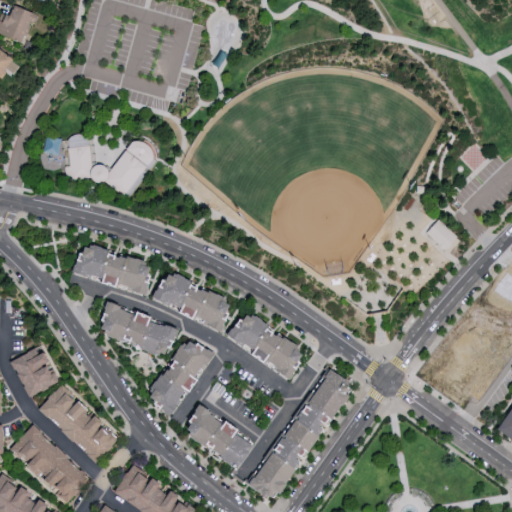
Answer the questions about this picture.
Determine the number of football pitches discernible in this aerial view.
0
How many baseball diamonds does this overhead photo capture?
1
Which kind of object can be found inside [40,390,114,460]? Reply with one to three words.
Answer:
house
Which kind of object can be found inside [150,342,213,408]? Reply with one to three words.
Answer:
house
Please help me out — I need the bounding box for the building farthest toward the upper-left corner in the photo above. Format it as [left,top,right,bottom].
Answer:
[0,4,38,46]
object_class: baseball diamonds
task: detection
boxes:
[182,66,442,276]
